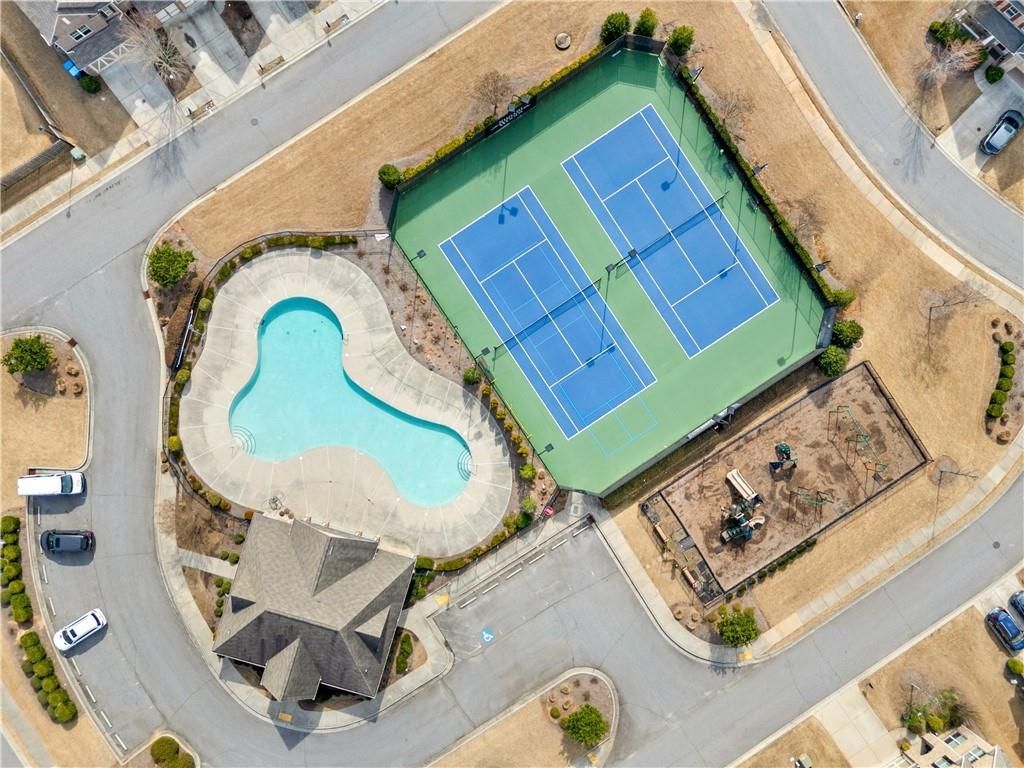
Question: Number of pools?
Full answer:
In total, 1 pool can be seen.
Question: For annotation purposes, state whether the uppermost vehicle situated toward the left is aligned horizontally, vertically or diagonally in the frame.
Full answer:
The uppermost vehicle situated toward the left runs horizontally in the image.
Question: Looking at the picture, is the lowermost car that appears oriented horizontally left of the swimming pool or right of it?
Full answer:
In the image, the lowermost car that appears oriented horizontally sits on the left side of the swimming pool.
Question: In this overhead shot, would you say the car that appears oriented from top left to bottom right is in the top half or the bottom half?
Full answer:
The car that appears oriented from top left to bottom right is in the bottom half of the image.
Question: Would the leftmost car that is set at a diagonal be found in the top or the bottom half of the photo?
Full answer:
The leftmost car that is set at a diagonal sits in the bottom half of the picture.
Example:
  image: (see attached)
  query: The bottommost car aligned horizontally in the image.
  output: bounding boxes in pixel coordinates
[41,528,94,552]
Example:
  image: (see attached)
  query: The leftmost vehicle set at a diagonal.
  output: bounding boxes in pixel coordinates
[52,607,108,650]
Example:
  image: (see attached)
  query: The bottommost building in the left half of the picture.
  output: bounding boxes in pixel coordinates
[213,512,418,702]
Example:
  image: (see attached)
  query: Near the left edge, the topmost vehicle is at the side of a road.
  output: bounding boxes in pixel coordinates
[19,471,85,496]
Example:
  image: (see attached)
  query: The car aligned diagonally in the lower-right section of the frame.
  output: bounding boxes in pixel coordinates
[983,604,1024,654]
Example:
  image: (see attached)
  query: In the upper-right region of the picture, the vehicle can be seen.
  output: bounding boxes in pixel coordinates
[979,107,1024,156]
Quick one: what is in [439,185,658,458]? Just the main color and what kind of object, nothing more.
blue tennis court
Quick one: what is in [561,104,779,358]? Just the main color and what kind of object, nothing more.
blue tennis court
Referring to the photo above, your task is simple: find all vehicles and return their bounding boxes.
[983,604,1024,654]
[1009,590,1024,622]
[52,607,108,650]
[979,107,1024,156]
[41,528,94,552]
[19,471,85,496]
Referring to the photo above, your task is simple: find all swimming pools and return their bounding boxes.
[179,247,512,568]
